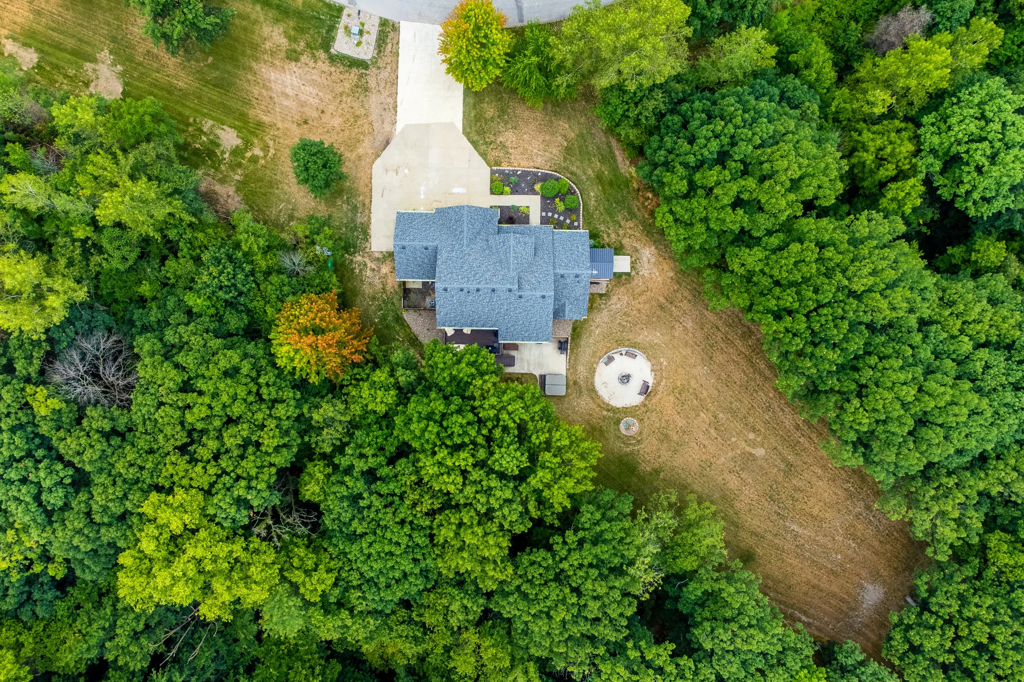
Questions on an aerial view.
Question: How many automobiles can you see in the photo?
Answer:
none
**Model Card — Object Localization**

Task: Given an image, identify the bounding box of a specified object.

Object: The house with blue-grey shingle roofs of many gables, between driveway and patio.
[393,205,591,344]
